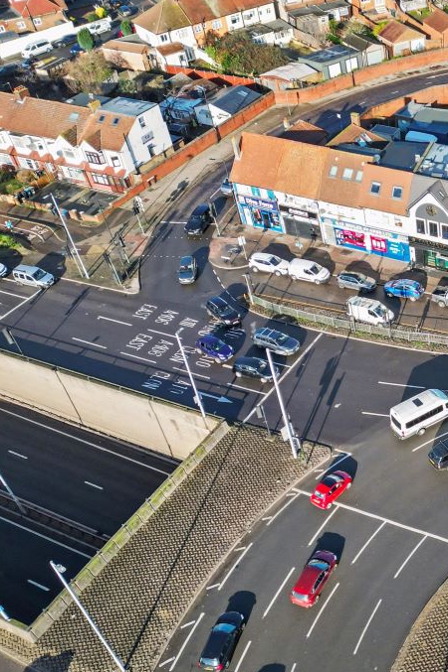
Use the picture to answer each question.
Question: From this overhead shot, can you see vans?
Yes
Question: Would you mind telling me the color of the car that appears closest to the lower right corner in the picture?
red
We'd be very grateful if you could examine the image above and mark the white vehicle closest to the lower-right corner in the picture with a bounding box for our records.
[389,390,448,442]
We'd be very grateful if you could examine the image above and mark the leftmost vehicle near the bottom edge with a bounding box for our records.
[194,609,247,672]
